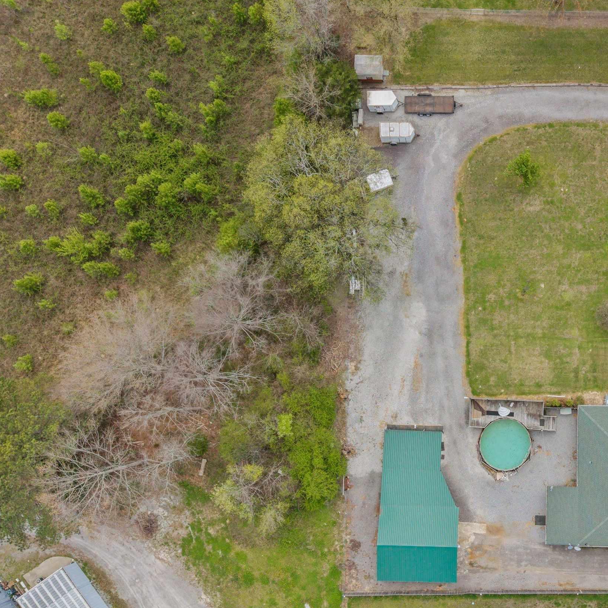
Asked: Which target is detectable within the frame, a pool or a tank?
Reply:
pool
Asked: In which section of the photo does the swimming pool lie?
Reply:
bottom right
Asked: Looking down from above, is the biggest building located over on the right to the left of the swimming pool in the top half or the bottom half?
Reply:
bottom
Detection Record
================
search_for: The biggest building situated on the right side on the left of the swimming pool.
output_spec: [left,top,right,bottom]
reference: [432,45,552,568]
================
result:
[376,424,459,582]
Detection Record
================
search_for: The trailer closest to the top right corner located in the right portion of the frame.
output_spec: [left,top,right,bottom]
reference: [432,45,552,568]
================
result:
[404,93,465,118]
